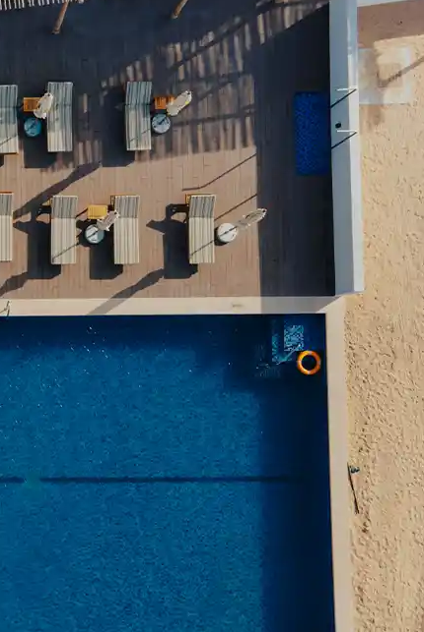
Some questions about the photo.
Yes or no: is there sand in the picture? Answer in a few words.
Yes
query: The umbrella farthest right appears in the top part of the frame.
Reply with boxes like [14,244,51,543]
[217,215,266,242]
